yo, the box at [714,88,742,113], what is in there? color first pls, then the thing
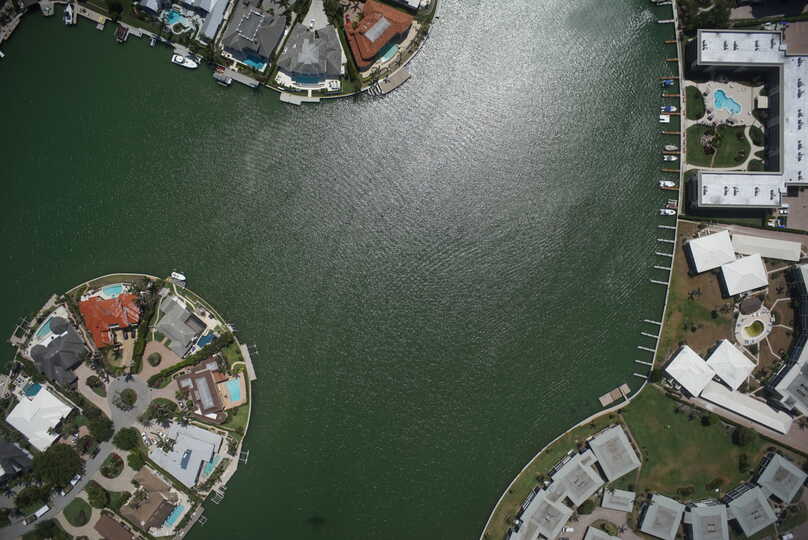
blue swimming pool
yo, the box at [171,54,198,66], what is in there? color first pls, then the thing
white boat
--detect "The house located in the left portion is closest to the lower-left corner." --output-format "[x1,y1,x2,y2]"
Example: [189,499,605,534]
[0,441,37,475]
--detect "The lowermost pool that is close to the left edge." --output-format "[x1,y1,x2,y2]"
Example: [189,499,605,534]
[23,383,42,397]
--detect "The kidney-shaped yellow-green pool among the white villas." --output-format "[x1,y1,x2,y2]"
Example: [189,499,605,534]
[744,320,765,337]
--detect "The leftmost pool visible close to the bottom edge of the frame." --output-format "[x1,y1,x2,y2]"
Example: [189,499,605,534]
[164,504,185,528]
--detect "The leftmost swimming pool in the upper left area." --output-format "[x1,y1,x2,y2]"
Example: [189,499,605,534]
[167,10,185,24]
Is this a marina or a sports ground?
marina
